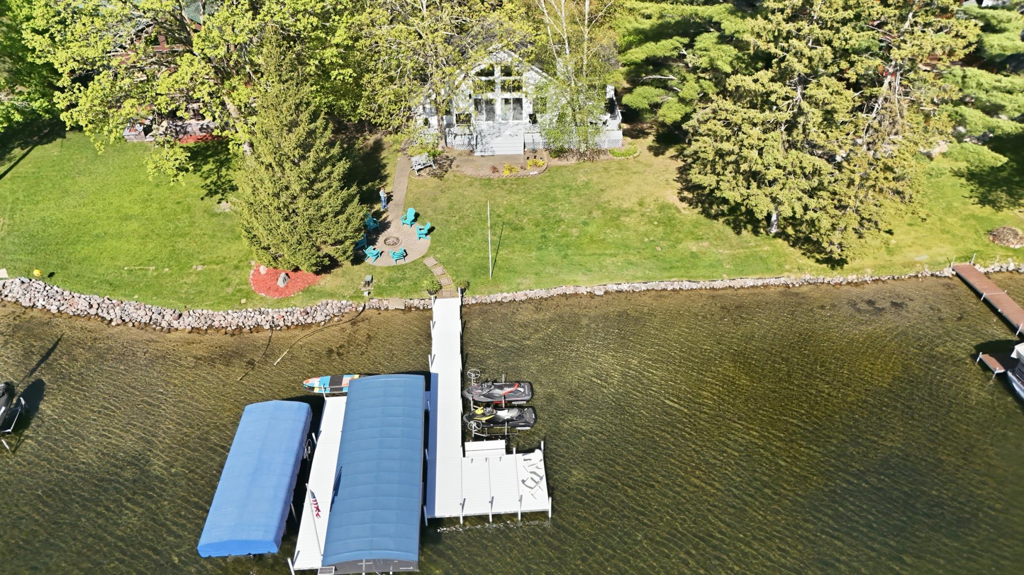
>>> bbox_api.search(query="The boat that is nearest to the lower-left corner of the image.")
[0,379,20,425]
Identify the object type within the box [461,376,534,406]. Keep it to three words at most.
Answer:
boat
